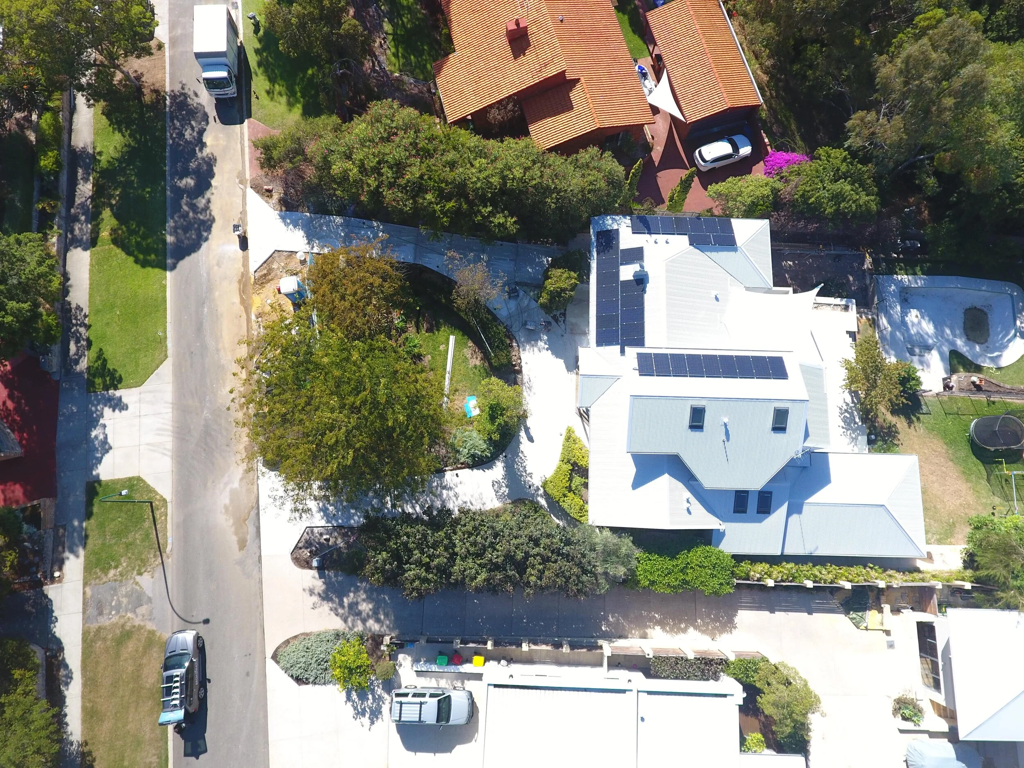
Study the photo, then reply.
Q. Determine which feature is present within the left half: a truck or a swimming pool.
truck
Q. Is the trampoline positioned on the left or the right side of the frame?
right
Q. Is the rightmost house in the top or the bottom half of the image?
bottom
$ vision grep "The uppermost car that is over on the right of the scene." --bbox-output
[690,131,757,175]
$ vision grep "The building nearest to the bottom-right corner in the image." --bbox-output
[887,606,1024,743]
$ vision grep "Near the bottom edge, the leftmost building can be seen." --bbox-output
[481,651,749,768]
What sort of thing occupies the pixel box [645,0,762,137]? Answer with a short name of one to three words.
building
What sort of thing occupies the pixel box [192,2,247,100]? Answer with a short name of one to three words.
truck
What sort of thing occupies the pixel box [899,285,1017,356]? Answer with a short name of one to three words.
swimming pool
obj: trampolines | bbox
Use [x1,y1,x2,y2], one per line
[962,409,1024,452]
